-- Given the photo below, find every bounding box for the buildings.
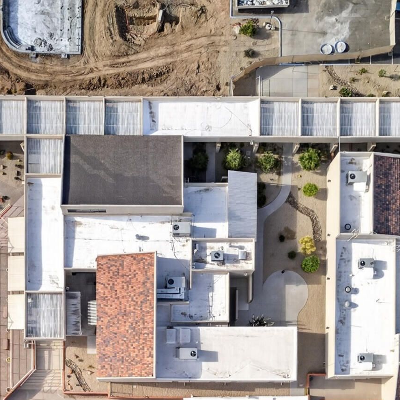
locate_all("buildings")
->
[25,134,298,385]
[324,152,400,400]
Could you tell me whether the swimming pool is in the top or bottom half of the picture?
top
